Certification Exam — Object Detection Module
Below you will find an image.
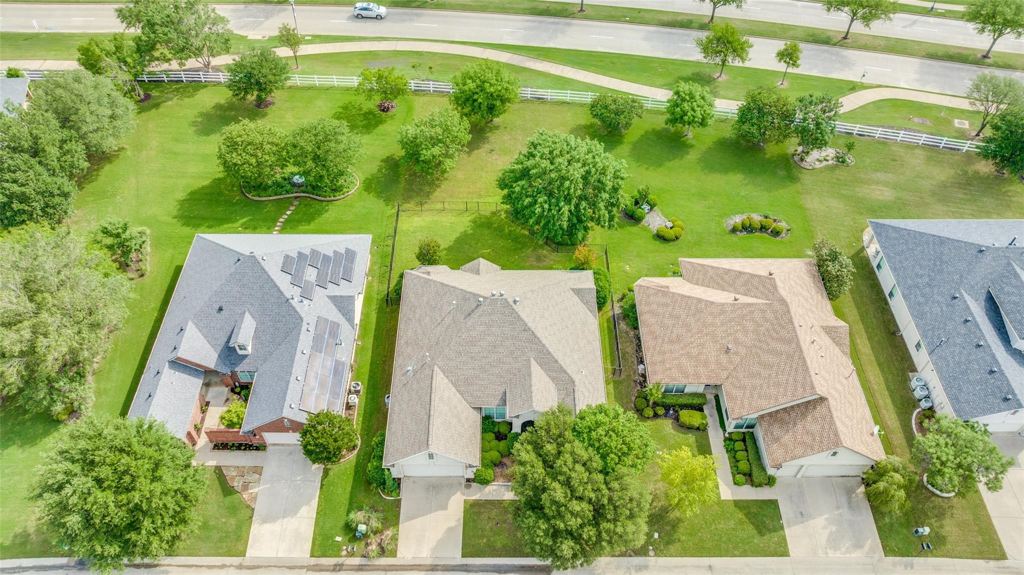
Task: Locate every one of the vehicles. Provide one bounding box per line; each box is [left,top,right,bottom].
[352,3,388,21]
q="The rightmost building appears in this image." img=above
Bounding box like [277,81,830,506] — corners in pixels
[866,219,1024,434]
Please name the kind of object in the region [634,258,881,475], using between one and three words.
house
